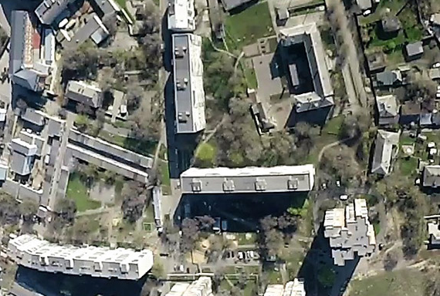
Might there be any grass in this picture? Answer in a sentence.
Yes, there is grass in the image.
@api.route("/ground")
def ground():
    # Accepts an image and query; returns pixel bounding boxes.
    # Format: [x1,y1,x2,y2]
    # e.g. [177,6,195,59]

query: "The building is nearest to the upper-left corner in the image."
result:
[6,12,40,73]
